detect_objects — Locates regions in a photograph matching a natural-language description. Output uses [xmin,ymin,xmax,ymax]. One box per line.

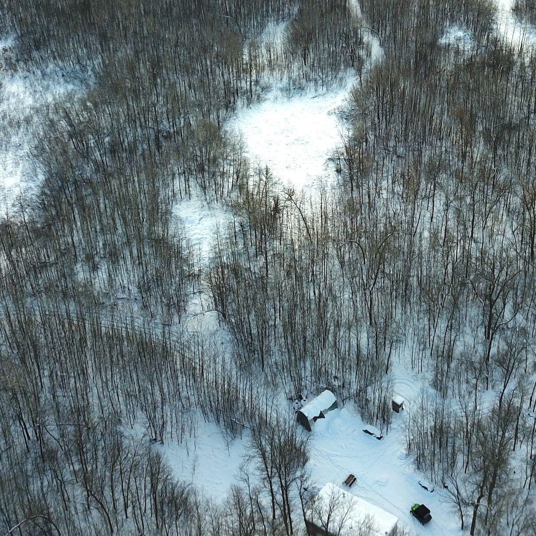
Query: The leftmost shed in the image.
[295,388,338,431]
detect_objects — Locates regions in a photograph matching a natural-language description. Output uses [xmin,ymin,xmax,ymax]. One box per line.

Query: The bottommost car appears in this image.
[407,502,433,523]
